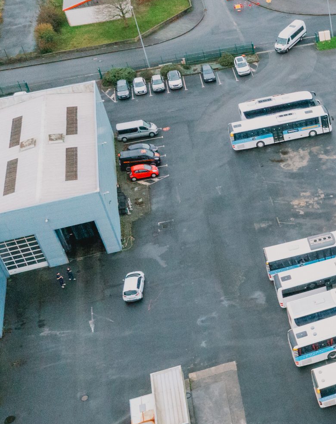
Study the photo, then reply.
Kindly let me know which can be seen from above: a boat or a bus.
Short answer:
bus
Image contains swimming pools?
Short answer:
No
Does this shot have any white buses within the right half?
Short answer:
Yes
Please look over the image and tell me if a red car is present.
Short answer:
Yes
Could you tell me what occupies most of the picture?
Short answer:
paved ground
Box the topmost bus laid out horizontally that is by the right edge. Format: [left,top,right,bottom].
[234,83,328,123]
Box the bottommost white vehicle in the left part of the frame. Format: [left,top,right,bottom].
[122,270,143,299]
